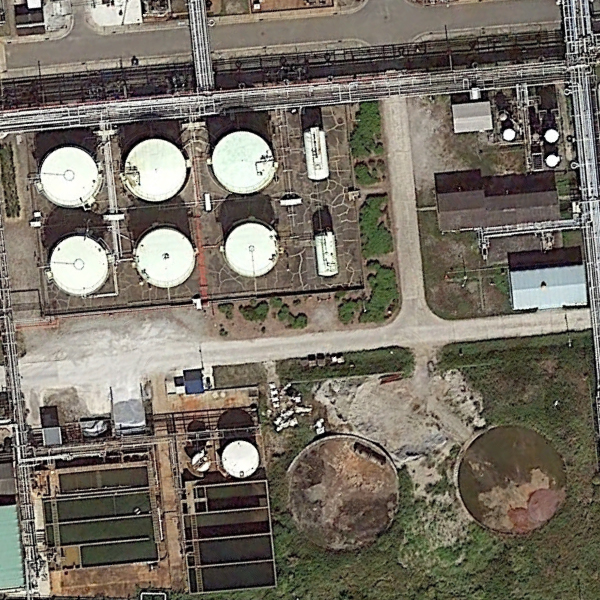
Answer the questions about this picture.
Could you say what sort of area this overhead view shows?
industrial area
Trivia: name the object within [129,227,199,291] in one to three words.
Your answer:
storage tank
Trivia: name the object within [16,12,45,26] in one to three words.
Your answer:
building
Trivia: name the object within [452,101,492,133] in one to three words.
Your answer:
shed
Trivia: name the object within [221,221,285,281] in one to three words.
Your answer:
storage tank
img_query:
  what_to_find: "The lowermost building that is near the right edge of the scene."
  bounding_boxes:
[510,264,587,309]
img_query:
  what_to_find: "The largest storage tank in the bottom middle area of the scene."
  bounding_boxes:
[221,440,260,481]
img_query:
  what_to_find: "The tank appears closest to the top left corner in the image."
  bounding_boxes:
[36,145,103,210]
